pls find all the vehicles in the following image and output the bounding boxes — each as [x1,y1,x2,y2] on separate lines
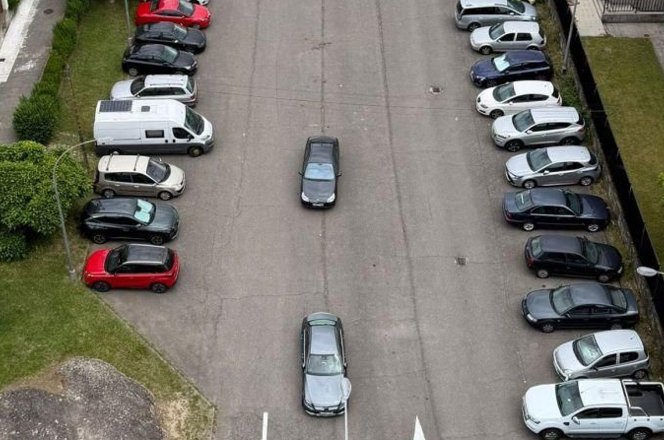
[550,328,657,381]
[134,0,212,25]
[90,94,215,156]
[76,196,180,245]
[453,0,540,30]
[490,107,591,152]
[522,232,627,281]
[518,278,646,331]
[296,129,342,203]
[133,18,208,49]
[469,18,551,53]
[109,67,199,103]
[500,186,614,232]
[520,375,664,440]
[475,79,567,118]
[81,241,181,292]
[502,144,606,188]
[469,50,558,85]
[90,151,187,200]
[120,38,199,74]
[296,308,351,411]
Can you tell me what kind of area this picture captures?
parking lot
